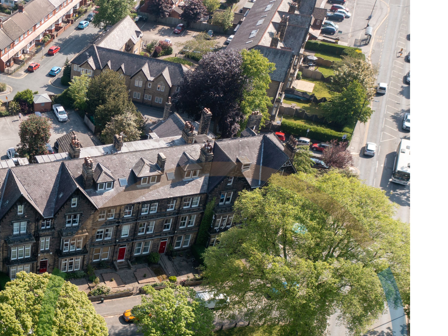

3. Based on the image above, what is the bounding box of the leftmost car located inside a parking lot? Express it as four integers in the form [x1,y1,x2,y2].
[5,148,20,166]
